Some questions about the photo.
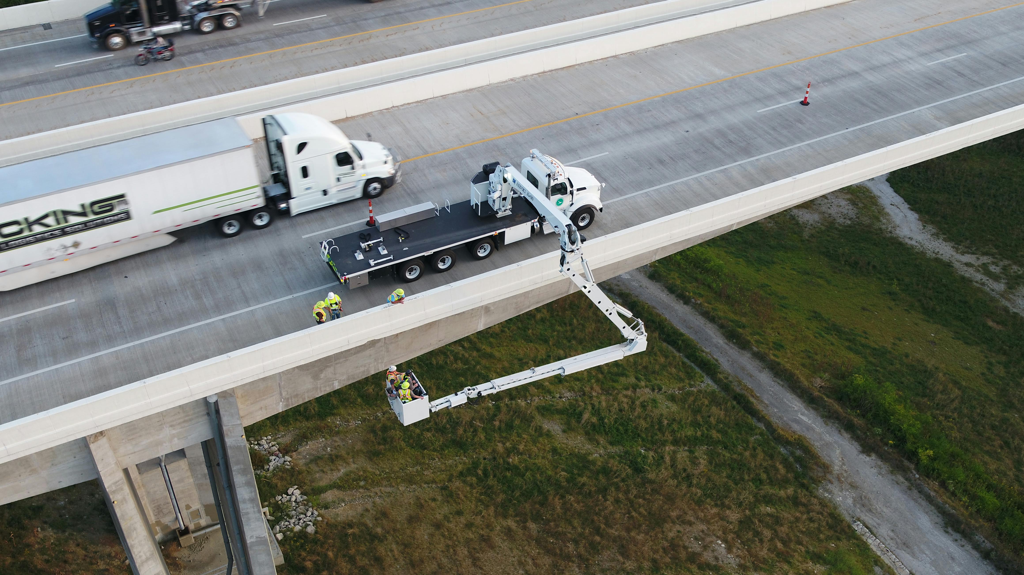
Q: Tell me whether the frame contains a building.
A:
No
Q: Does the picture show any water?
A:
No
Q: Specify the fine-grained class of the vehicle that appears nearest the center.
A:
truck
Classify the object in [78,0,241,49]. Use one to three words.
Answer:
truck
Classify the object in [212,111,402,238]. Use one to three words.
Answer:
truck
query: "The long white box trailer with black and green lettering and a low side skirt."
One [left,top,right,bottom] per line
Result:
[0,118,265,292]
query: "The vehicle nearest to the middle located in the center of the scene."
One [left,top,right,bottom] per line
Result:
[315,148,647,426]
